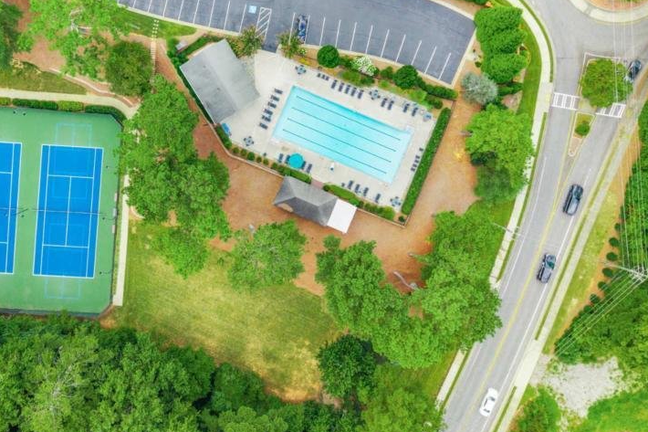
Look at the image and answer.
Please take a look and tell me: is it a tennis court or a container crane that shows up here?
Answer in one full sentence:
There is a tennis court in the scene.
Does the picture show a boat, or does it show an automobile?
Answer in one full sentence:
It is an automobile that can be seen here.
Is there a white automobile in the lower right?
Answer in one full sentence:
Yes, the scene does show a white automobile in the lower right.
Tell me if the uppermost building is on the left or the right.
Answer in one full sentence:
It is on the left.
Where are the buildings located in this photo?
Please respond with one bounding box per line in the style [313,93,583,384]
[180,38,261,123]
[273,176,339,227]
